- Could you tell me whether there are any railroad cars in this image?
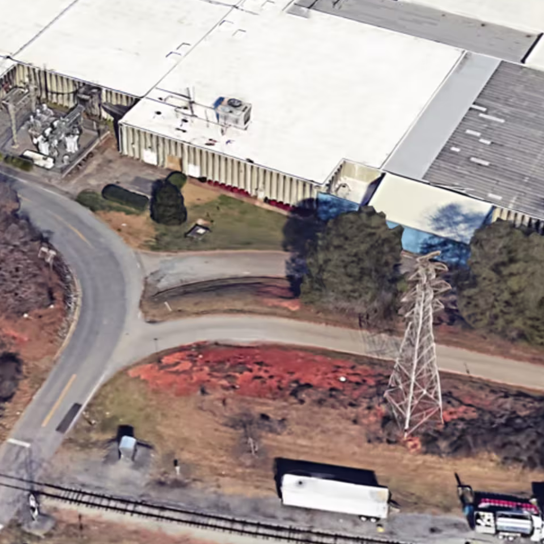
No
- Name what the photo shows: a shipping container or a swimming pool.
shipping container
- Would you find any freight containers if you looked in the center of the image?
No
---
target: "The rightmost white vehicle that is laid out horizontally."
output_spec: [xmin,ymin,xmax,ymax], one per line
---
[476,513,544,544]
